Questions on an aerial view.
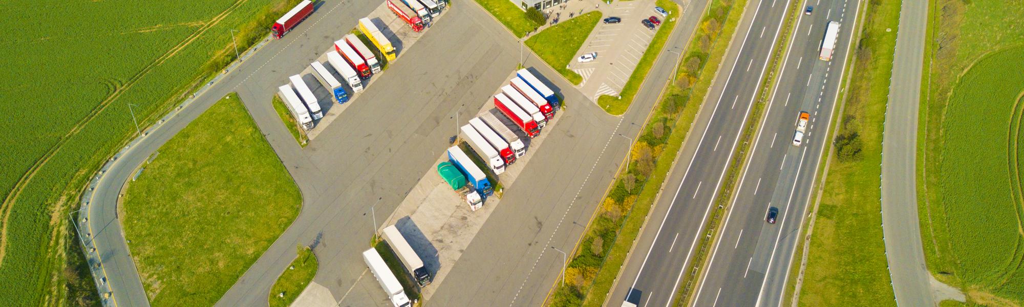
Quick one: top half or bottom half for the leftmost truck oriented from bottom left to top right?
top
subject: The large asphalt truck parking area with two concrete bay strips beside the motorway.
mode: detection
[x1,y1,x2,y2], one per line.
[88,0,711,307]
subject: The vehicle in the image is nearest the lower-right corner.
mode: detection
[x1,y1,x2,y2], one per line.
[767,207,779,223]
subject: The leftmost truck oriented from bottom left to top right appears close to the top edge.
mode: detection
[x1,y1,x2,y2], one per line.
[271,0,313,39]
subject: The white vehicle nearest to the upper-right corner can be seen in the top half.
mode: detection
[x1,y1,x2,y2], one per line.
[820,21,839,59]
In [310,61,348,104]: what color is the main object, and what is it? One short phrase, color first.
white truck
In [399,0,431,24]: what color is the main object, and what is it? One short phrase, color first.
white truck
